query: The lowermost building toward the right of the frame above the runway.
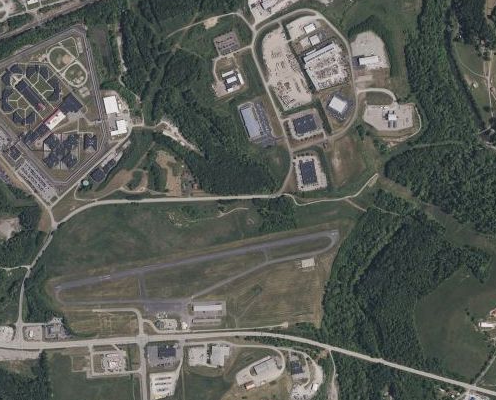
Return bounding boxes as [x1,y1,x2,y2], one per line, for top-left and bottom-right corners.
[299,159,317,185]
